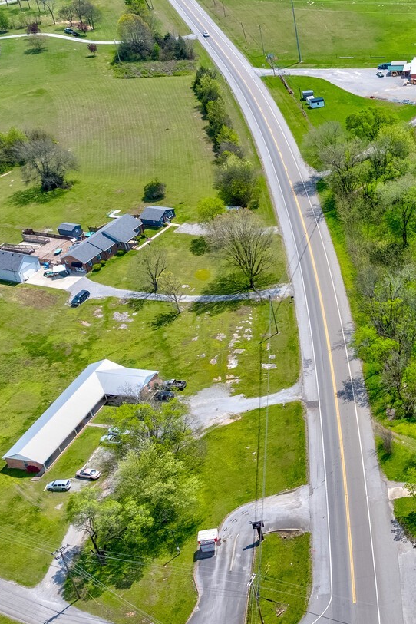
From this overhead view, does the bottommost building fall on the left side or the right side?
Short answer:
left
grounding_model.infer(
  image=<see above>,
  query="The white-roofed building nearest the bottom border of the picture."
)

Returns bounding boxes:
[2,359,159,473]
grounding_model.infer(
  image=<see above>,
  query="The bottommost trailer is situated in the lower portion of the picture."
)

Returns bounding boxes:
[189,523,219,552]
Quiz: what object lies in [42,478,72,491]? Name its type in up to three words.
vehicle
